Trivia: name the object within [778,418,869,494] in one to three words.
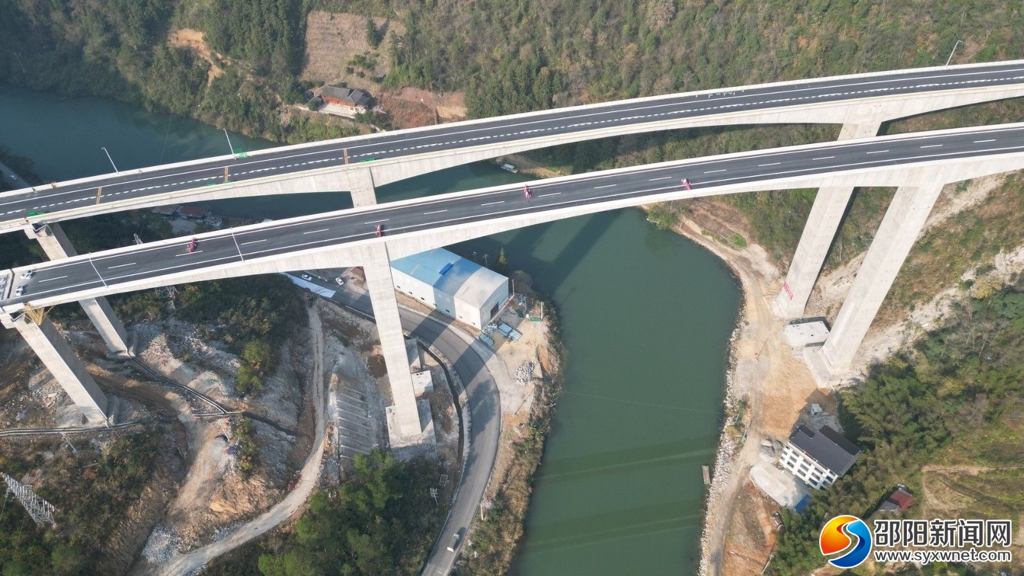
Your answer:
building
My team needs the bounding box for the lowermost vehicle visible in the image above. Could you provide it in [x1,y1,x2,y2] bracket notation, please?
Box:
[446,527,463,556]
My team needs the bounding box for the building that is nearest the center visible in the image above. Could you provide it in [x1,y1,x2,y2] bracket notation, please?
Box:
[392,247,508,329]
